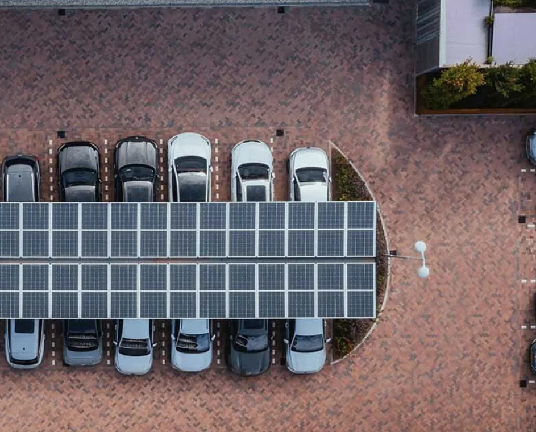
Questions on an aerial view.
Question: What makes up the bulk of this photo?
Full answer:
For the most part, this view shows paved ground.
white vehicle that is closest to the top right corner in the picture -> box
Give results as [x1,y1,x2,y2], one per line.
[285,148,335,201]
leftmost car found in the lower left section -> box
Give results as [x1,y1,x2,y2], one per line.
[5,319,46,369]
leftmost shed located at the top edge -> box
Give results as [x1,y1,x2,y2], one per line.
[414,0,490,75]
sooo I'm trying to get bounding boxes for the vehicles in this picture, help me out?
[1,155,41,201]
[169,319,217,372]
[166,133,215,201]
[59,300,106,367]
[229,141,278,201]
[227,318,276,376]
[56,142,103,201]
[5,319,46,369]
[110,319,157,374]
[282,307,331,374]
[112,136,162,233]
[285,148,335,201]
